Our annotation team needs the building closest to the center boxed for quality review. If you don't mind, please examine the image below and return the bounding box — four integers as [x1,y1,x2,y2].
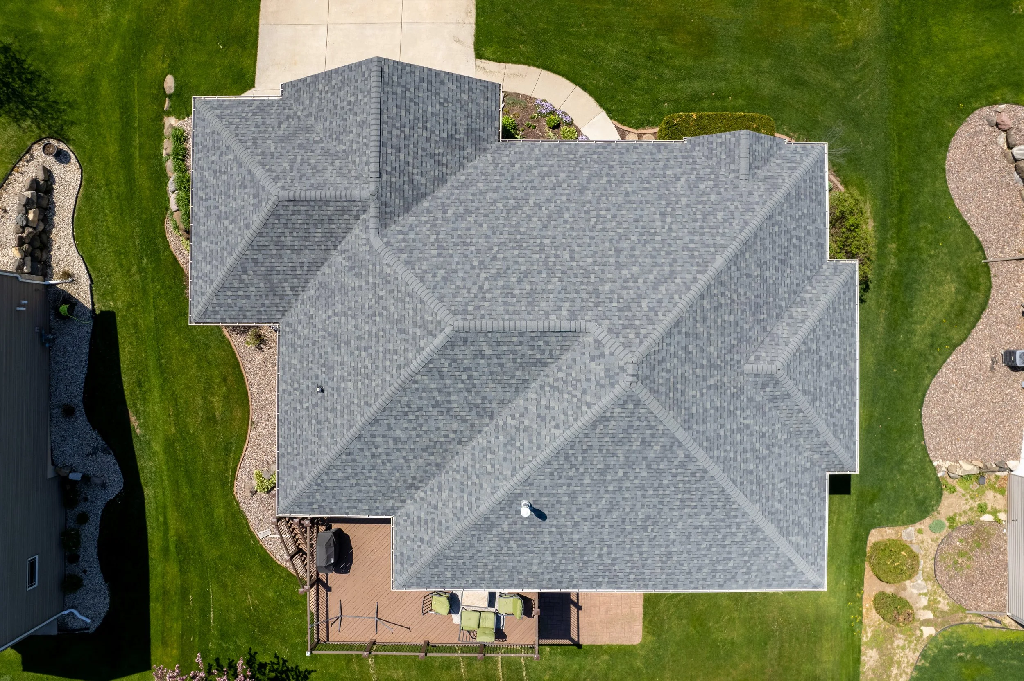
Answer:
[188,54,860,594]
